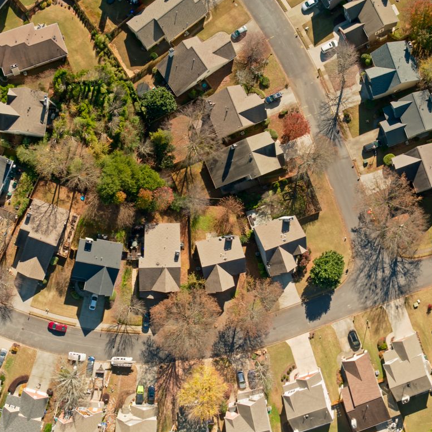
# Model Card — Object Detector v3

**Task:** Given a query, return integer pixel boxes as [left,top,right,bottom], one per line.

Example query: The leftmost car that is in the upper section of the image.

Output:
[230,25,248,39]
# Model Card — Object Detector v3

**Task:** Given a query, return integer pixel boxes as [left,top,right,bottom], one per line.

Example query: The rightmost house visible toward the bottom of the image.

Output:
[382,332,432,404]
